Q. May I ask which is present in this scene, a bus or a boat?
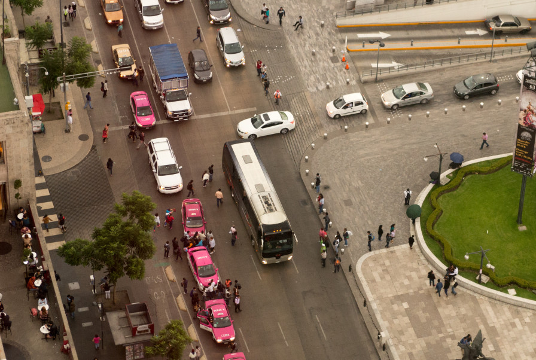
bus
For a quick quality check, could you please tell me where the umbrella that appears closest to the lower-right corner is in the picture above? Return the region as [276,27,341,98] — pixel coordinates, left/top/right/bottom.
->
[405,207,423,220]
